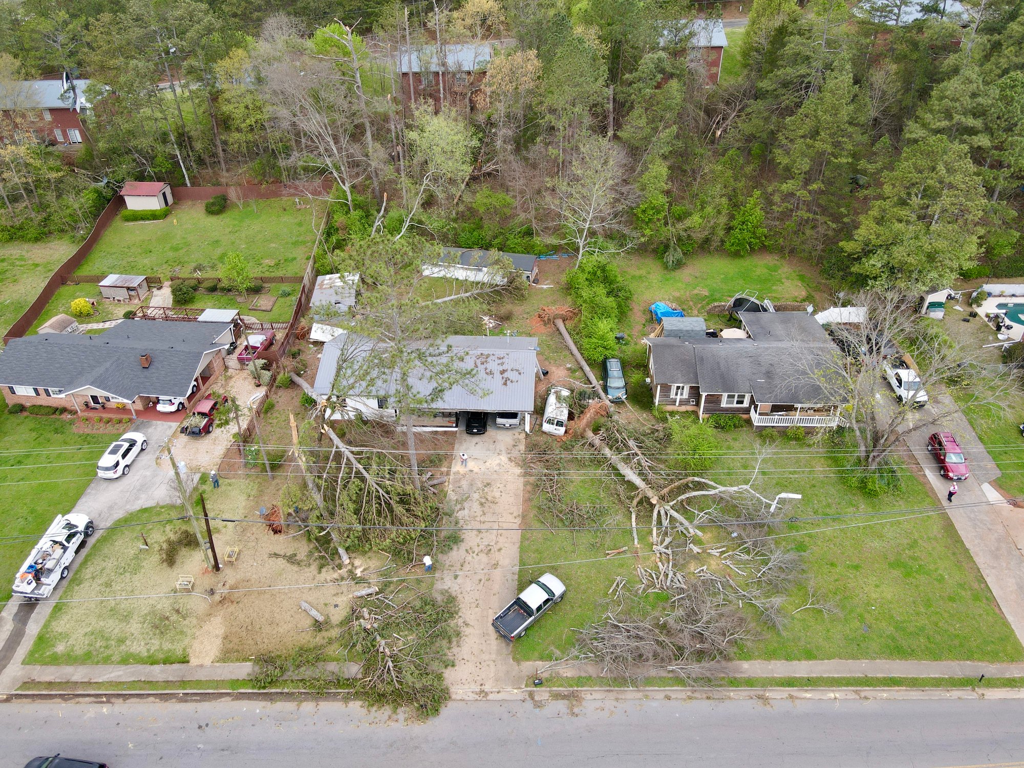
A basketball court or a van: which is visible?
van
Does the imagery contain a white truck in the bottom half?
Yes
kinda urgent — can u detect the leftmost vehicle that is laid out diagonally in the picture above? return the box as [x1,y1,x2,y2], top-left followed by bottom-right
[13,503,96,592]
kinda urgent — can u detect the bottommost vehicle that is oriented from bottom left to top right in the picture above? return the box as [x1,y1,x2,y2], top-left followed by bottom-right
[491,570,570,641]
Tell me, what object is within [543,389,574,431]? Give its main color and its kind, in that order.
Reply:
white van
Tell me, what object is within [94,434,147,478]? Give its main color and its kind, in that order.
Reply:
white car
